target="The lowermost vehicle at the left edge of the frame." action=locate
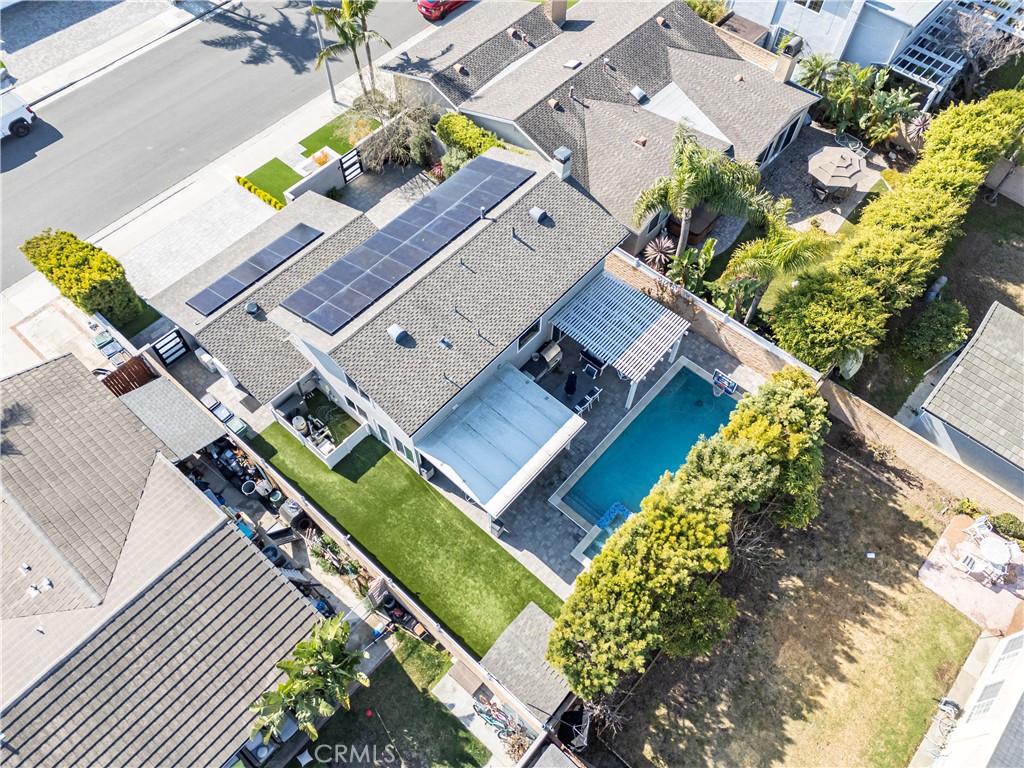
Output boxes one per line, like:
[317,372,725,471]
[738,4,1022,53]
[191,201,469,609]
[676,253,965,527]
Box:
[0,99,43,143]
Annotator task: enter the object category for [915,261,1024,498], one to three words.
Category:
house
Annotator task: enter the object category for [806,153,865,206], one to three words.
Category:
umbrella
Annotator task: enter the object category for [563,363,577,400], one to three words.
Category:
umbrella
